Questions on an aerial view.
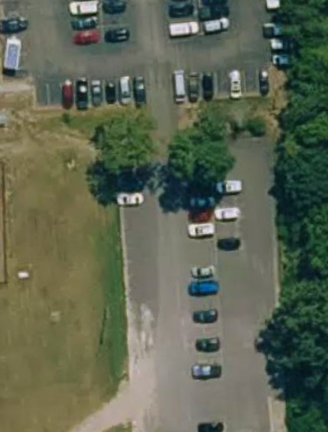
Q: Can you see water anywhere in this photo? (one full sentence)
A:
No, water can't be seen anywhere here.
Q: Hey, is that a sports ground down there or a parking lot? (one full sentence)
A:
This looks like a parking lot.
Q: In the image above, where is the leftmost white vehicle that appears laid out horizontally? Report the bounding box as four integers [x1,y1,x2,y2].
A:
[69,2,99,16]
